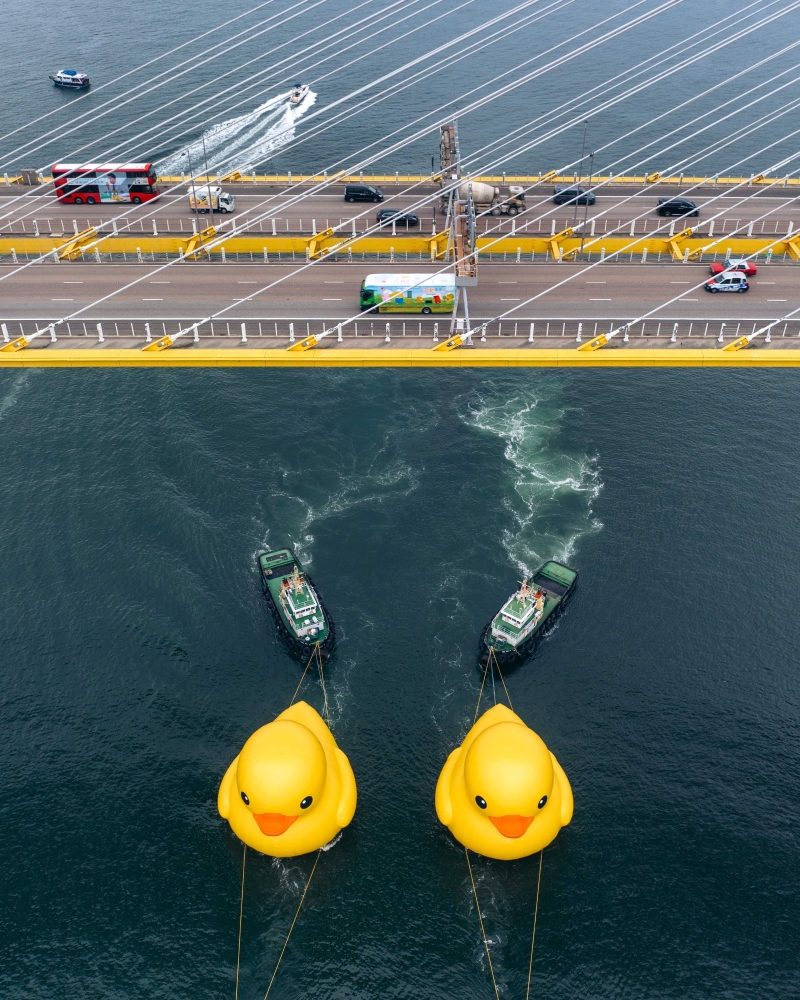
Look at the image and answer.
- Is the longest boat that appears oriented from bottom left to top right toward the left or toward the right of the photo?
right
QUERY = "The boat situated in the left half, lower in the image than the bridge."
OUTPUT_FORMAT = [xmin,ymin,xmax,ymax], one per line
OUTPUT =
[255,547,337,663]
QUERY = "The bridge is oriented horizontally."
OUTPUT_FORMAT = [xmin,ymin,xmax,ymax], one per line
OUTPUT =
[0,0,800,369]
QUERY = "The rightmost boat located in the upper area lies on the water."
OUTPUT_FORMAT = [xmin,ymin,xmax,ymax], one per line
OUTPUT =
[286,84,314,102]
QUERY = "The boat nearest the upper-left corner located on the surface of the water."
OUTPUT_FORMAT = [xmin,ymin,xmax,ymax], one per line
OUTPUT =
[54,69,90,86]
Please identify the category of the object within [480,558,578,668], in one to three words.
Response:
boat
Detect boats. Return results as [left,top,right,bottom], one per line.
[286,84,314,102]
[54,69,90,86]
[480,558,578,668]
[255,547,337,663]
